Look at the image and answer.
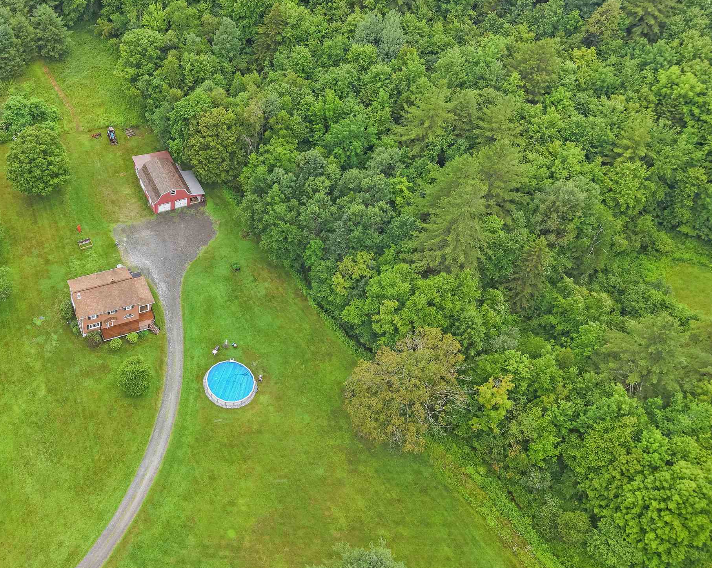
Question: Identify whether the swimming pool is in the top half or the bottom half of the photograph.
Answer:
bottom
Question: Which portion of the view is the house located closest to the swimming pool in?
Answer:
left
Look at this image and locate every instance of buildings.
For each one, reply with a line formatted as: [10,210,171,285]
[132,151,205,214]
[68,267,160,342]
